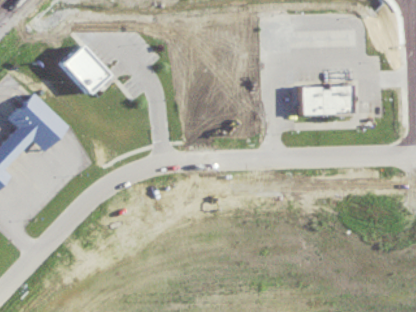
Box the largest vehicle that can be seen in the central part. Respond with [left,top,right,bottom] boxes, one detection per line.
[212,122,239,136]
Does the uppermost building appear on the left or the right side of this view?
left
